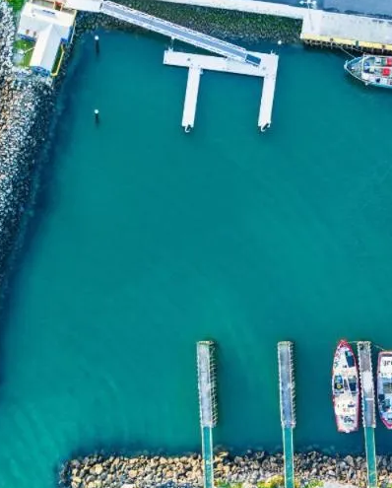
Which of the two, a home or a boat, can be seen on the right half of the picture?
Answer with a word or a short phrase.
boat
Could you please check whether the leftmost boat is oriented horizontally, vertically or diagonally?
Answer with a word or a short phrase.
vertically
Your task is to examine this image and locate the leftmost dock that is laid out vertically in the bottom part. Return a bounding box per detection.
[197,339,224,488]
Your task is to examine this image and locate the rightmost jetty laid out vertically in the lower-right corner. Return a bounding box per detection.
[357,340,379,488]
